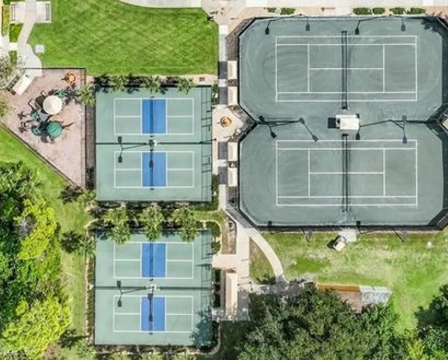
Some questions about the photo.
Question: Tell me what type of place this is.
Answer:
sports ground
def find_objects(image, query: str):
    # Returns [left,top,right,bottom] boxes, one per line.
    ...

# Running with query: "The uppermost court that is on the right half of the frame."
[240,18,448,122]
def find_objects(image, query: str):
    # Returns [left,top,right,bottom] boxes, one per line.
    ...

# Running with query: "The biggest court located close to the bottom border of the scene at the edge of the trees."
[94,289,213,346]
